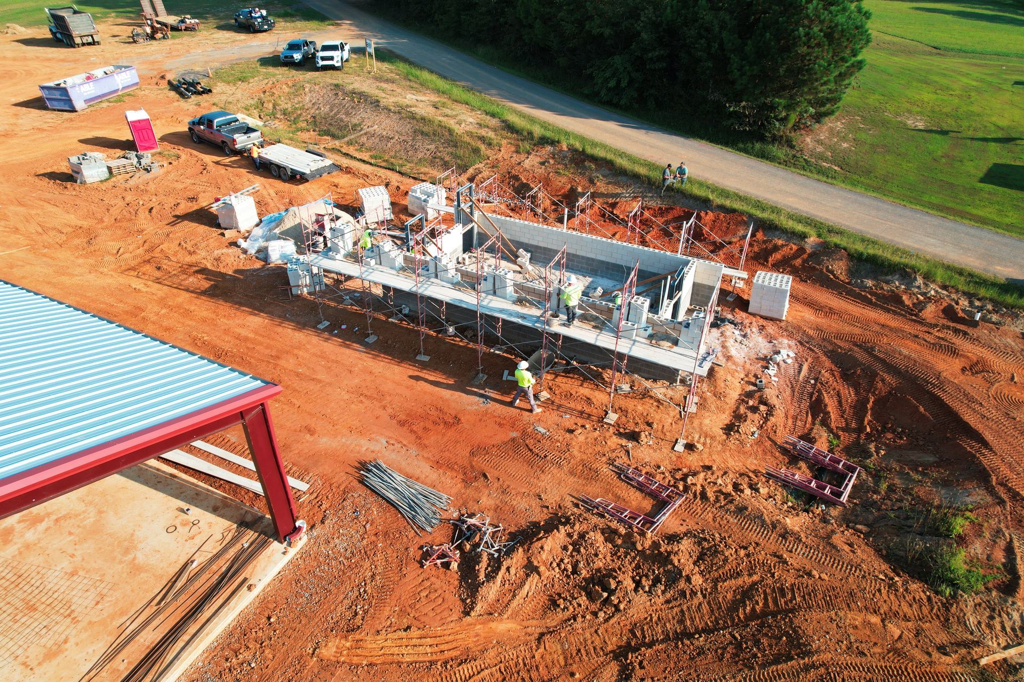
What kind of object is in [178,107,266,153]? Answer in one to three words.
truck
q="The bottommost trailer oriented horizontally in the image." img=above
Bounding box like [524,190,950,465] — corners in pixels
[244,142,353,184]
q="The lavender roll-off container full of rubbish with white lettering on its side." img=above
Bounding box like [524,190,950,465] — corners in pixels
[37,63,138,112]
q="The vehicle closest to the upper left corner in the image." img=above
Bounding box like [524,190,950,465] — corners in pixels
[35,0,103,44]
